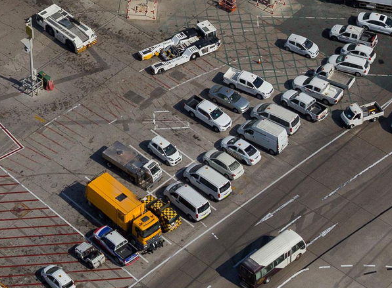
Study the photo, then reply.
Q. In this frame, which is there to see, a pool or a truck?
truck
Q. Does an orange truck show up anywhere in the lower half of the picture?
Yes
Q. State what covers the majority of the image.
paved ground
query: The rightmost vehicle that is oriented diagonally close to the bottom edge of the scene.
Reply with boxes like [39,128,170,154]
[236,221,314,288]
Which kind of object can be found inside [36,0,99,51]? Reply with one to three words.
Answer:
work vehicle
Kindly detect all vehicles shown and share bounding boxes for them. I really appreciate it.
[250,101,302,136]
[237,119,289,155]
[38,265,78,288]
[218,135,264,166]
[283,32,319,58]
[36,0,99,51]
[293,73,346,106]
[279,88,330,122]
[328,20,380,46]
[236,221,314,288]
[184,164,233,203]
[206,82,252,115]
[142,192,188,235]
[146,134,183,165]
[354,9,392,38]
[87,168,165,252]
[138,14,220,74]
[163,182,213,222]
[309,59,361,92]
[200,149,246,180]
[325,51,371,79]
[74,240,106,270]
[337,99,388,130]
[224,66,275,99]
[340,40,377,64]
[89,224,142,268]
[183,94,232,131]
[101,134,165,188]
